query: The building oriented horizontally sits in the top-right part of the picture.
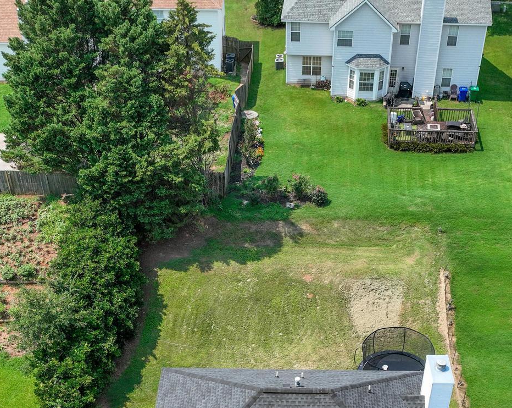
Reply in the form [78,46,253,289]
[280,0,494,100]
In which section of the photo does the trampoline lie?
bottom right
